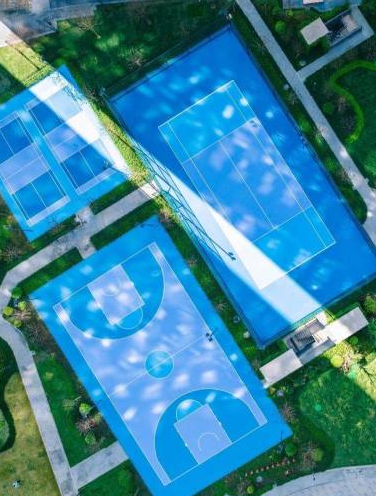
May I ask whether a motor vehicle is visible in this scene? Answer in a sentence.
No, I can't see a single motor vehicle in this photo.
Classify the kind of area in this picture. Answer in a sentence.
It's a sports ground.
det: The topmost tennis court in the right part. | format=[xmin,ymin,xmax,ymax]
[111,24,376,347]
